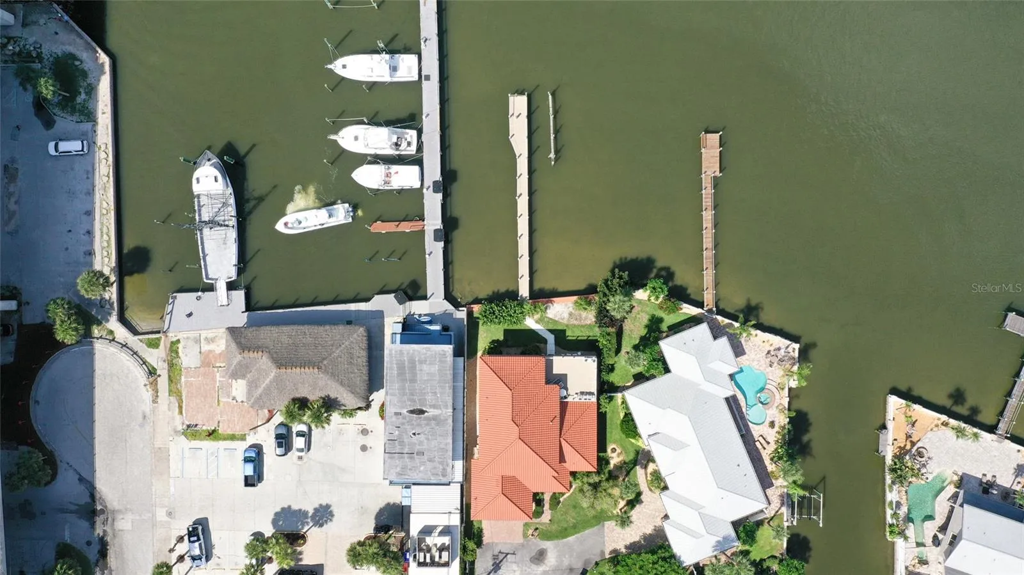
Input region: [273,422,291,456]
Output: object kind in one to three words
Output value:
car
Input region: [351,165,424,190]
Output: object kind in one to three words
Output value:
boat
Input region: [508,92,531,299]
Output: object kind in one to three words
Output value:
pier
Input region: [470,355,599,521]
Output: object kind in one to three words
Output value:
house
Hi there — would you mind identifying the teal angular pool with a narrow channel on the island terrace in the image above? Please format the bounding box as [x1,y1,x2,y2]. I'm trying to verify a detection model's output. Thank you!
[905,470,951,561]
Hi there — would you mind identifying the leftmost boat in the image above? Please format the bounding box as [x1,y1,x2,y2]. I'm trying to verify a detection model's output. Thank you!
[160,147,238,283]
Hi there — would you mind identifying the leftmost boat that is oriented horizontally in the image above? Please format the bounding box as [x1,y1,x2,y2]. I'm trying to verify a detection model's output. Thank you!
[275,206,358,232]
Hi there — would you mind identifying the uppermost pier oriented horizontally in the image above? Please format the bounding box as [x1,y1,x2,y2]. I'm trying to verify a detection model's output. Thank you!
[367,219,425,234]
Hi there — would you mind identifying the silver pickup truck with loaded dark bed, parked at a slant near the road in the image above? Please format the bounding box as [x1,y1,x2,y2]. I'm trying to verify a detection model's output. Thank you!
[187,523,209,566]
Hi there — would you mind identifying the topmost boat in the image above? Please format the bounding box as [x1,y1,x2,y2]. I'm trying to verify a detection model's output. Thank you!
[324,38,420,82]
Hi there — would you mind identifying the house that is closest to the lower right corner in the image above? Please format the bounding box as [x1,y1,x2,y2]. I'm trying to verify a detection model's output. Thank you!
[929,486,1024,575]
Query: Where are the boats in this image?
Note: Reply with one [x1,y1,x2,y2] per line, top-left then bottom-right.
[323,120,419,158]
[324,38,420,82]
[351,165,424,190]
[275,206,358,232]
[160,147,238,283]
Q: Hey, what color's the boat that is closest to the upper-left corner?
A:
white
